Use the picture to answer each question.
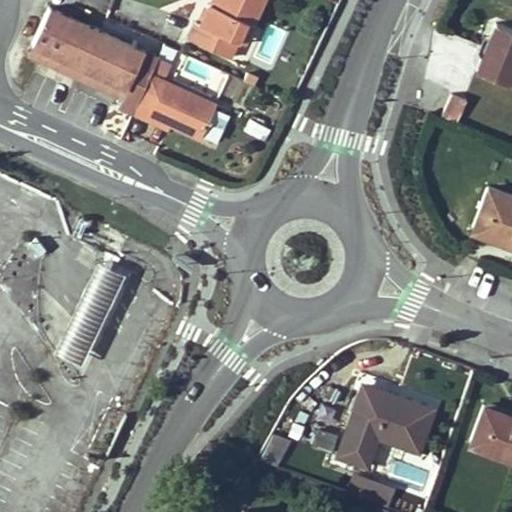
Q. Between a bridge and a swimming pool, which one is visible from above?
swimming pool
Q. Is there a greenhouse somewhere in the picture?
Yes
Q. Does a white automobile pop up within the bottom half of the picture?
Yes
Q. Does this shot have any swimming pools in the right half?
Yes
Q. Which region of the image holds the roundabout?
center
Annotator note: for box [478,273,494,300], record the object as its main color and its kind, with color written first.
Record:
white vehicle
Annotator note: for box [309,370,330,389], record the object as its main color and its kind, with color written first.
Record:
white car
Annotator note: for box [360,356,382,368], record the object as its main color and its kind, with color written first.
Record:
red vehicle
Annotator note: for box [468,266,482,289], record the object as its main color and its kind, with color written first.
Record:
white vehicle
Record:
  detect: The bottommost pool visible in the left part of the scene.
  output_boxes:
[176,56,230,99]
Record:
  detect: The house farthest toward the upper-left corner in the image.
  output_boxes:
[28,8,147,98]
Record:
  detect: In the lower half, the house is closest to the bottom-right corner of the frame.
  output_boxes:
[466,404,512,468]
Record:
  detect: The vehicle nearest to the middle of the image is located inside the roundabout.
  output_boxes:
[251,270,268,292]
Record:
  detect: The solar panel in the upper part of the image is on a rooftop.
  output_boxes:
[150,110,194,135]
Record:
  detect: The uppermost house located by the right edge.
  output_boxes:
[476,24,512,90]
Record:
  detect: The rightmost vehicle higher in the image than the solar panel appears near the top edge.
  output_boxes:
[164,13,186,29]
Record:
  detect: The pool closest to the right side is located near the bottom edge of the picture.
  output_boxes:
[385,448,442,502]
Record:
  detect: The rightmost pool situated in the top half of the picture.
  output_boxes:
[245,22,291,72]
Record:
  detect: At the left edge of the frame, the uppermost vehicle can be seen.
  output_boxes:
[22,15,37,37]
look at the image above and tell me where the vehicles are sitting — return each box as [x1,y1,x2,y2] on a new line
[92,102,106,124]
[22,15,37,37]
[164,13,186,29]
[309,370,330,389]
[468,266,482,289]
[54,82,68,103]
[251,270,268,292]
[149,126,164,144]
[332,352,354,370]
[130,118,144,139]
[478,273,494,300]
[360,356,382,368]
[186,380,203,402]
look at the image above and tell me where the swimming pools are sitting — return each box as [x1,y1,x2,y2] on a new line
[245,22,291,72]
[385,448,442,502]
[176,56,230,99]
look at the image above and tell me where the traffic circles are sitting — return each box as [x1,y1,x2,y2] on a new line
[230,180,382,336]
